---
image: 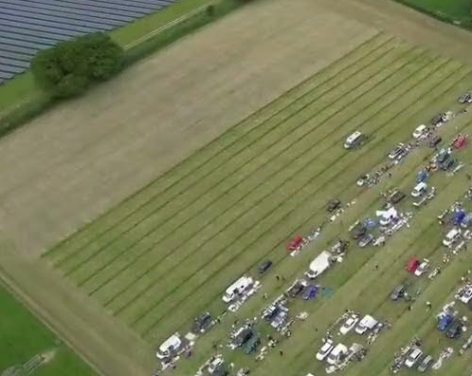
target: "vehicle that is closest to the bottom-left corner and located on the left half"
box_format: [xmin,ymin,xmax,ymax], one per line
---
[157,332,184,358]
